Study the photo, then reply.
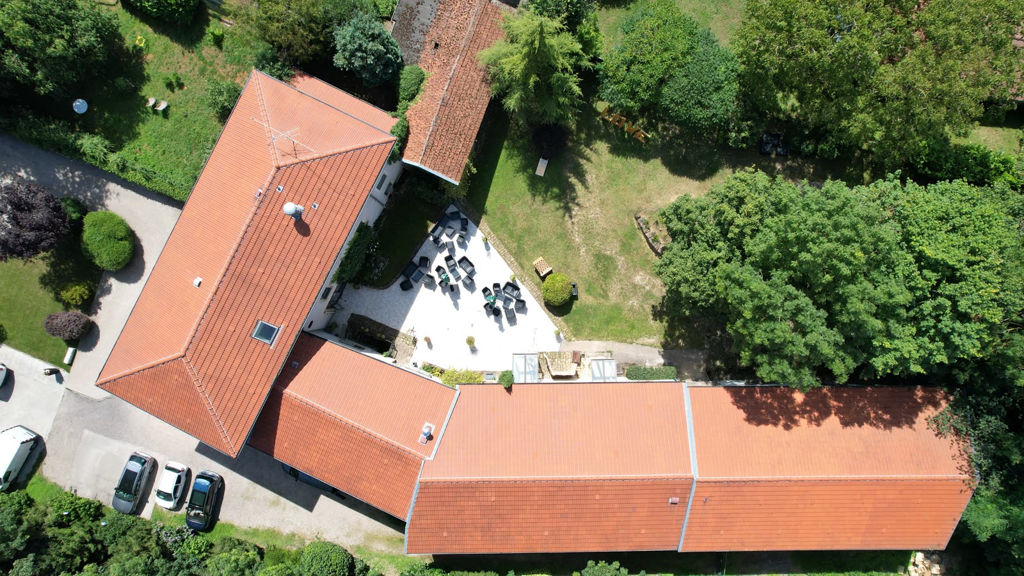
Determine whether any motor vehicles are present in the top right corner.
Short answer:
No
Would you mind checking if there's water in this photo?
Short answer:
No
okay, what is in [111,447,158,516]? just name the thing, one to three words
car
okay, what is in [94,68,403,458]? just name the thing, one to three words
house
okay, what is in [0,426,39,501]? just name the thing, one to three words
van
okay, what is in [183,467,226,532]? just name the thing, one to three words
car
